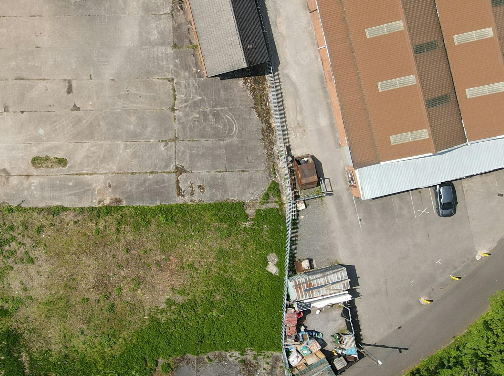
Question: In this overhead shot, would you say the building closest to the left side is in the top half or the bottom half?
top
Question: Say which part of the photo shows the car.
right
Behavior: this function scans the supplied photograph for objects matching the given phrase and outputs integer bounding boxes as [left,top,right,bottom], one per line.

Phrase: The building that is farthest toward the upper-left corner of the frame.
[185,0,270,78]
